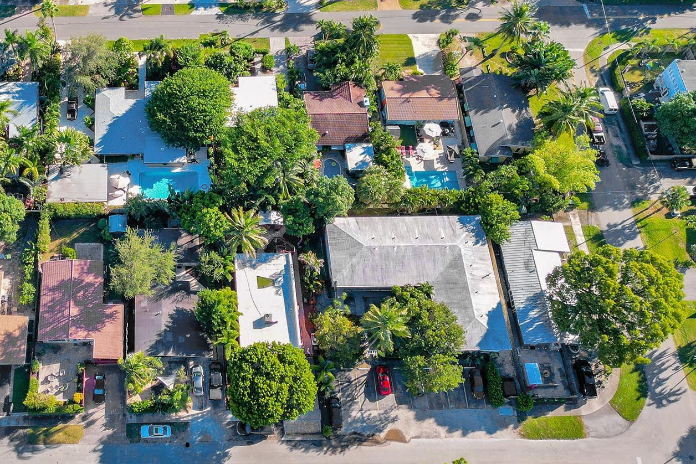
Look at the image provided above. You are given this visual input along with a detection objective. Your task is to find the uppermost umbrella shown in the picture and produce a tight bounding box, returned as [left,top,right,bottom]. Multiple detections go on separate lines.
[423,125,440,140]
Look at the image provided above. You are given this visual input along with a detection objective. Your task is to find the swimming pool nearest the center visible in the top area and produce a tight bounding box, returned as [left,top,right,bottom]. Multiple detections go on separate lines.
[321,156,344,178]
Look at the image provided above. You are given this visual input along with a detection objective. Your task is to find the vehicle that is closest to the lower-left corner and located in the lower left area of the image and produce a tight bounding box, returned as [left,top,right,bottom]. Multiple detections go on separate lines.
[91,373,105,405]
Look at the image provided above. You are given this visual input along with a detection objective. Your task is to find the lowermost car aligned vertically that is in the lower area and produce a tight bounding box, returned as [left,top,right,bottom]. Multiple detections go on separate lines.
[328,394,344,429]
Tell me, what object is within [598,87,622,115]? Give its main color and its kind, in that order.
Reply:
white vehicle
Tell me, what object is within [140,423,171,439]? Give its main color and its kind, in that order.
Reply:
blue car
